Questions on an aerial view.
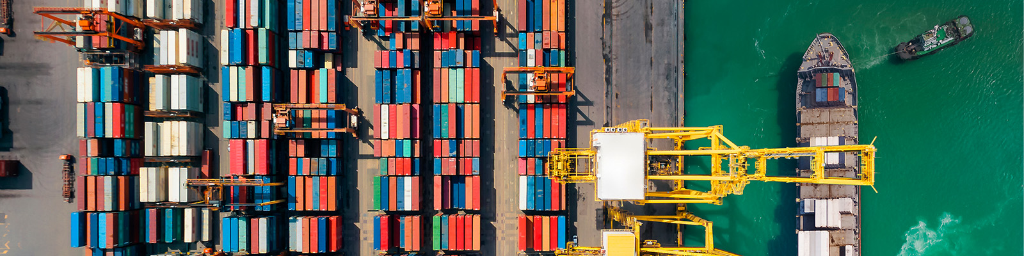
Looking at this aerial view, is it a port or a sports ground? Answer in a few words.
port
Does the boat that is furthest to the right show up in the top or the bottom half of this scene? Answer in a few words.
top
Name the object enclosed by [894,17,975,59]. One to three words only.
boat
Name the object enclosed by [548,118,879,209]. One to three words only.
container crane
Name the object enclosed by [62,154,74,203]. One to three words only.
vehicle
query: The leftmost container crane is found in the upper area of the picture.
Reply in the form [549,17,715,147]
[33,7,144,53]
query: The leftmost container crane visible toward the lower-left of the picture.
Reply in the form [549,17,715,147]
[188,174,285,209]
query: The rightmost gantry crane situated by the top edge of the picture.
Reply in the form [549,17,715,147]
[423,0,501,39]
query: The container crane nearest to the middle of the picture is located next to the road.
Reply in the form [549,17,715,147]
[502,64,574,108]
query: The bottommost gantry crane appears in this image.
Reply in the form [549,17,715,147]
[548,202,763,256]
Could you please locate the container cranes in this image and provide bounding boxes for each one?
[423,0,501,39]
[349,0,432,39]
[33,7,144,53]
[548,118,879,209]
[502,64,574,108]
[548,202,763,256]
[270,102,362,142]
